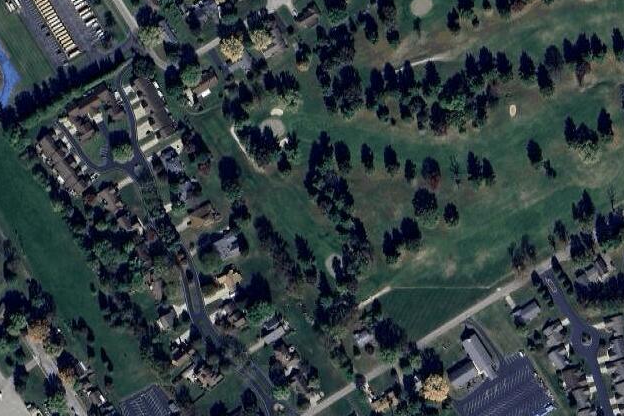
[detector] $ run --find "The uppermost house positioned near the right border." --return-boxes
[573,260,610,287]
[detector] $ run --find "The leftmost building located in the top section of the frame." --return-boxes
[38,135,94,197]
